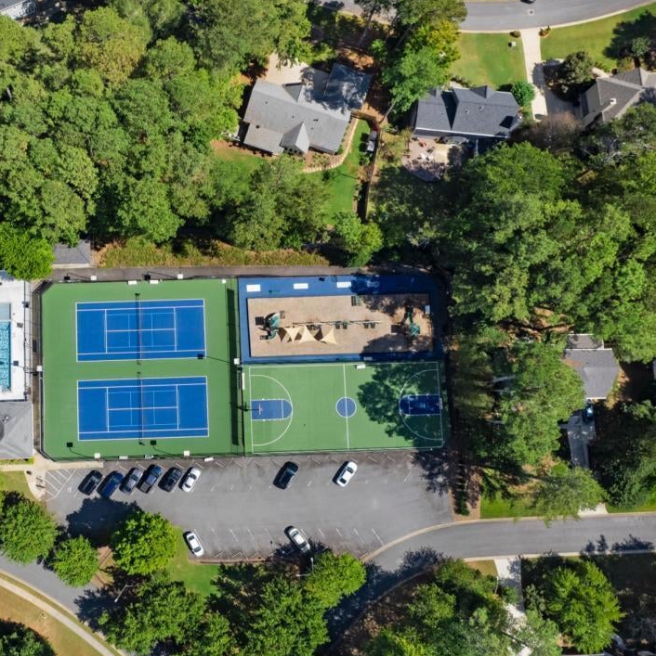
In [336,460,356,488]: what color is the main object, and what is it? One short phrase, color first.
white car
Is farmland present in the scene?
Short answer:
No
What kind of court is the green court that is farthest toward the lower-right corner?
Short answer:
basketball court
